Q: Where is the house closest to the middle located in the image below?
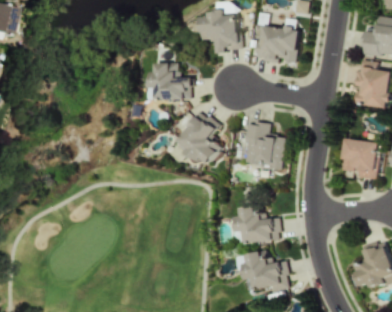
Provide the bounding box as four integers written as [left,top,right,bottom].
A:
[168,108,225,167]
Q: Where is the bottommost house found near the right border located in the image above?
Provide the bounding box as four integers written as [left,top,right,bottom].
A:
[350,240,392,292]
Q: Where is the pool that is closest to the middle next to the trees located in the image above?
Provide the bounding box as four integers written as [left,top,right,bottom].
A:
[152,134,169,152]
